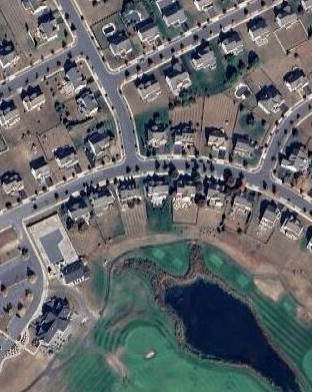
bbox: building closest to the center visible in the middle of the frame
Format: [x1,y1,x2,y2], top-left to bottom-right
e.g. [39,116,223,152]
[149,179,167,203]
